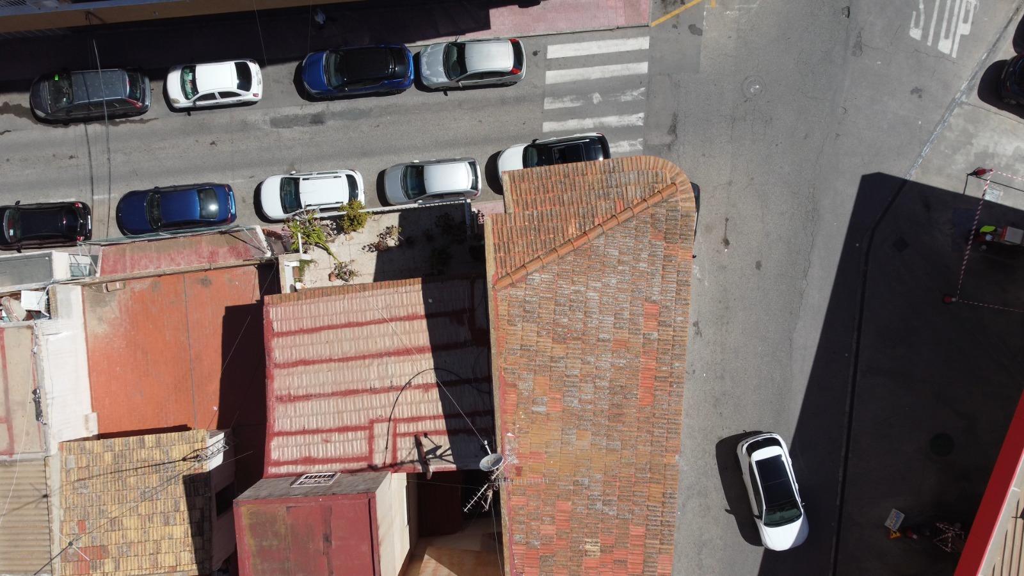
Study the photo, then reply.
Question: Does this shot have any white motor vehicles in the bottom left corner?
No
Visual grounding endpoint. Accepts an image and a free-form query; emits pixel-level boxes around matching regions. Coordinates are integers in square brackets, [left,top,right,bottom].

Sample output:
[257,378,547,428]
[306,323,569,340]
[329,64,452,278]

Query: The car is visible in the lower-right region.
[733,429,809,549]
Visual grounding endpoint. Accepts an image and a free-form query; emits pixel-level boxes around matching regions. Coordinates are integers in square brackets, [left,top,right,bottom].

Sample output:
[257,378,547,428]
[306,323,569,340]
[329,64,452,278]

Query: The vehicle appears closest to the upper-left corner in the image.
[29,67,151,127]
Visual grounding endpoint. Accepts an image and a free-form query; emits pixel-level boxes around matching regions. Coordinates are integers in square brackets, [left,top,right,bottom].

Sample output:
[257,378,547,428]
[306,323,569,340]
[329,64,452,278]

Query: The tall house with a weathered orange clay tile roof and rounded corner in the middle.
[486,154,697,576]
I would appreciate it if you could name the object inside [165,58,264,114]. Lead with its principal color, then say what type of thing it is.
white car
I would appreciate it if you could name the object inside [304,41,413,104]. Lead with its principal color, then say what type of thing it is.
black car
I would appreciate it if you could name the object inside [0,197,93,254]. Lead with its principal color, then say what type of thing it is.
black car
